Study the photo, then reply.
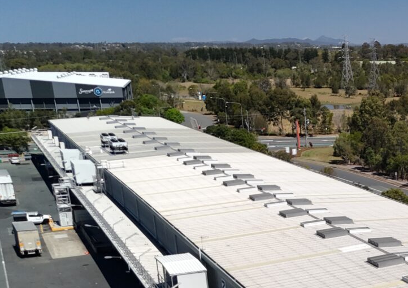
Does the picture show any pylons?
Yes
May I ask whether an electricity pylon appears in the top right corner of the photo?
Yes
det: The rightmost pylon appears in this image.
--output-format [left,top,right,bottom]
[363,40,386,93]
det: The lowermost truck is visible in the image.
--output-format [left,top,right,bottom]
[12,218,39,252]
